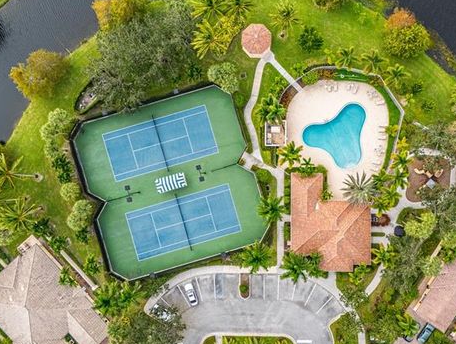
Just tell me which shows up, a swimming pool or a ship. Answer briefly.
swimming pool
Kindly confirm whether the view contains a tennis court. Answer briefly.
Yes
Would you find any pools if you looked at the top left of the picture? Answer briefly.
No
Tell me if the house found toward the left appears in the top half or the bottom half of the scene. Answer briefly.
bottom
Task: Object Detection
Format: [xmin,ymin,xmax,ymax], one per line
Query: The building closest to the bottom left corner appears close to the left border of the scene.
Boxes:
[0,243,110,344]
